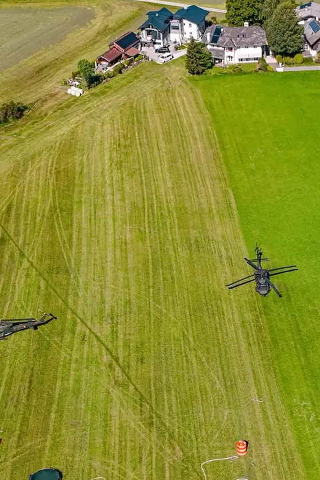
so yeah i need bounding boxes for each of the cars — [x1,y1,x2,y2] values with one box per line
[159,52,173,61]
[155,48,170,55]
